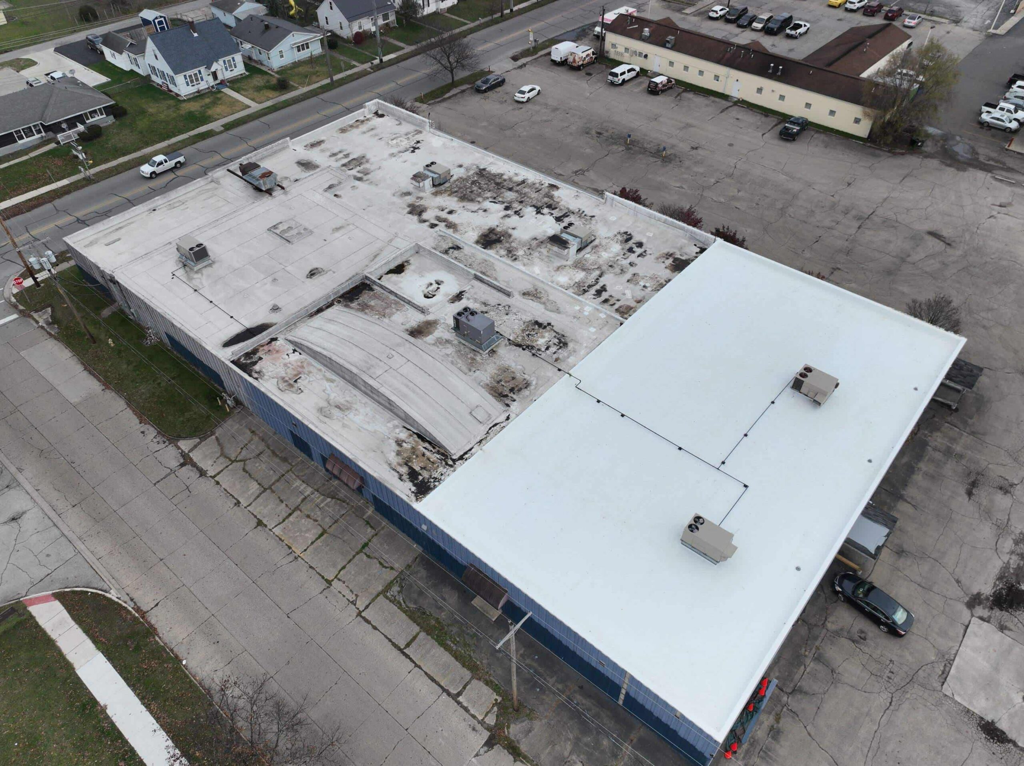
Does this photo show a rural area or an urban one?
urban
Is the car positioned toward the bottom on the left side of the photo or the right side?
right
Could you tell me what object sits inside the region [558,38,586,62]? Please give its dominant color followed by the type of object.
white vehicle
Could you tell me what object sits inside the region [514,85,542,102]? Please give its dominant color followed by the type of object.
white car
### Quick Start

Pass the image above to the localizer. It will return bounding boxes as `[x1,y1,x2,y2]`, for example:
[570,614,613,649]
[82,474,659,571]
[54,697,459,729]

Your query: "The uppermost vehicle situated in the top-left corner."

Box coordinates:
[85,35,104,53]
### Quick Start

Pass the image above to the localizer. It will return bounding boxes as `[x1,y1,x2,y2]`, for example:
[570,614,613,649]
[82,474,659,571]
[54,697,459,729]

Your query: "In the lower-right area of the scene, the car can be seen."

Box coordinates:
[826,566,923,642]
